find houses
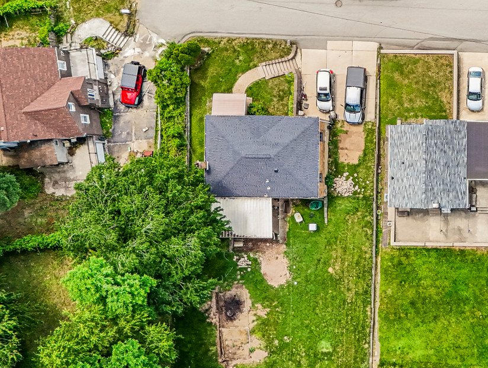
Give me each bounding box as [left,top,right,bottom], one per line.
[0,43,108,166]
[186,93,327,243]
[381,120,488,213]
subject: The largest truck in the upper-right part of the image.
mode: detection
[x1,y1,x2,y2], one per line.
[342,65,367,125]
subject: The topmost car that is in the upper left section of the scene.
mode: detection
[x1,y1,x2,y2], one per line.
[117,60,146,109]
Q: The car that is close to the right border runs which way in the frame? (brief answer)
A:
up and down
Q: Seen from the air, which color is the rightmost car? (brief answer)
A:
white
